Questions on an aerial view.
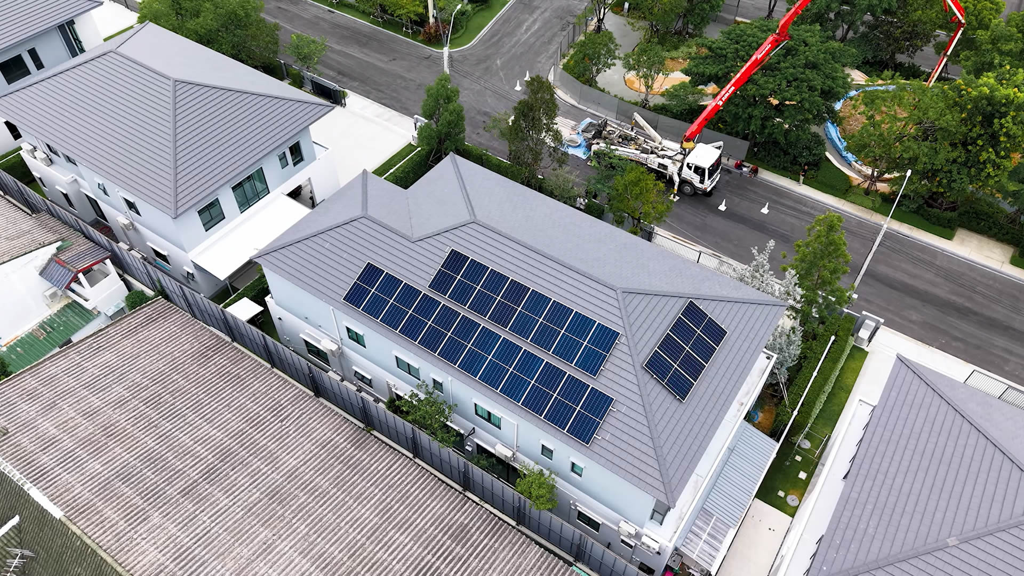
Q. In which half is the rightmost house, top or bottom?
bottom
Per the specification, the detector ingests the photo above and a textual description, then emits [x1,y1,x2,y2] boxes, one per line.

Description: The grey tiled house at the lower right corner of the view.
[767,352,1024,576]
